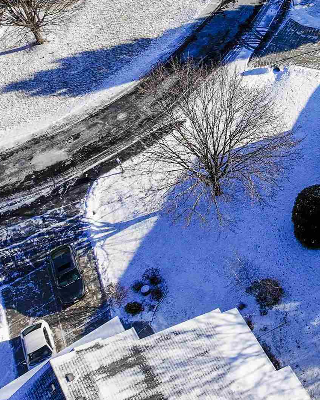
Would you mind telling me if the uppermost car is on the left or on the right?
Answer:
left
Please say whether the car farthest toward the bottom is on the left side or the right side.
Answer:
left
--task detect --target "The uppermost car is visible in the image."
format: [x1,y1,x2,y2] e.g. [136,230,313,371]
[44,238,85,303]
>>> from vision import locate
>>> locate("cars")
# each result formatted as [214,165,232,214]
[12,306,54,365]
[44,238,85,303]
